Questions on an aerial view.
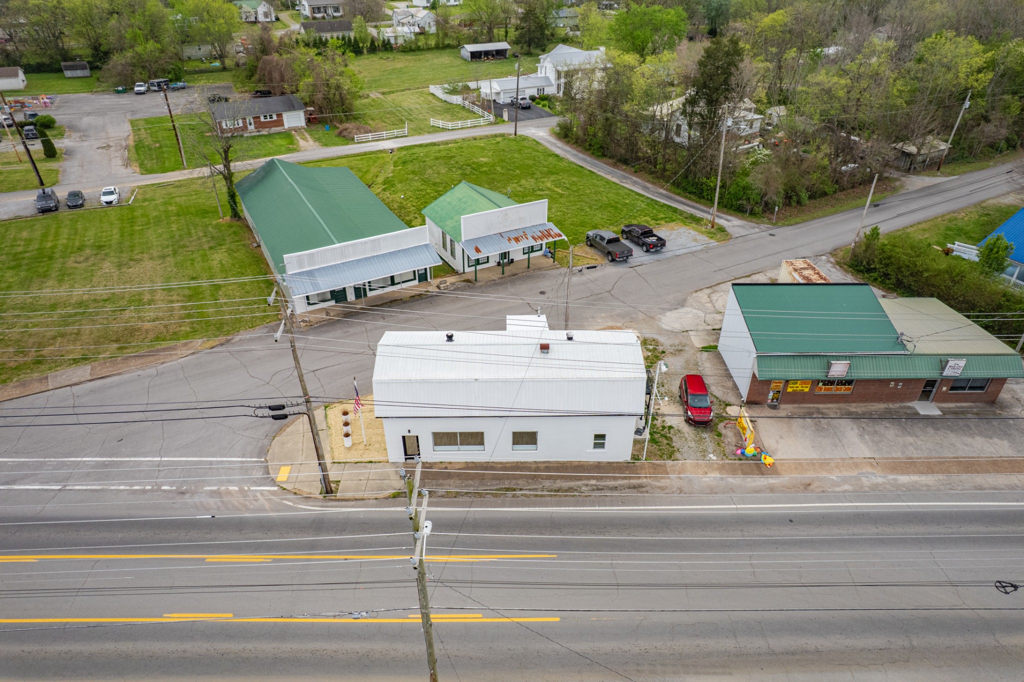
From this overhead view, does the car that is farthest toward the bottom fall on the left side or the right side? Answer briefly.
right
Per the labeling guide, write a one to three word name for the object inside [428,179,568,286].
building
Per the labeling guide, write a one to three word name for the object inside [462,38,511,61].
shed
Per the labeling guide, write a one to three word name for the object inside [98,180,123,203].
car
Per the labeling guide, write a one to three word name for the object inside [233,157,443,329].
building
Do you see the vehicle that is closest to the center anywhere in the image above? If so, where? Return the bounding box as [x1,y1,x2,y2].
[582,225,639,262]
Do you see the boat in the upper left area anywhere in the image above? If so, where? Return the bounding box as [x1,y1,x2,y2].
[170,78,193,90]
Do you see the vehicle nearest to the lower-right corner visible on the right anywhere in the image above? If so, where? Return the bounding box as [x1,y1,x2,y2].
[678,370,718,429]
